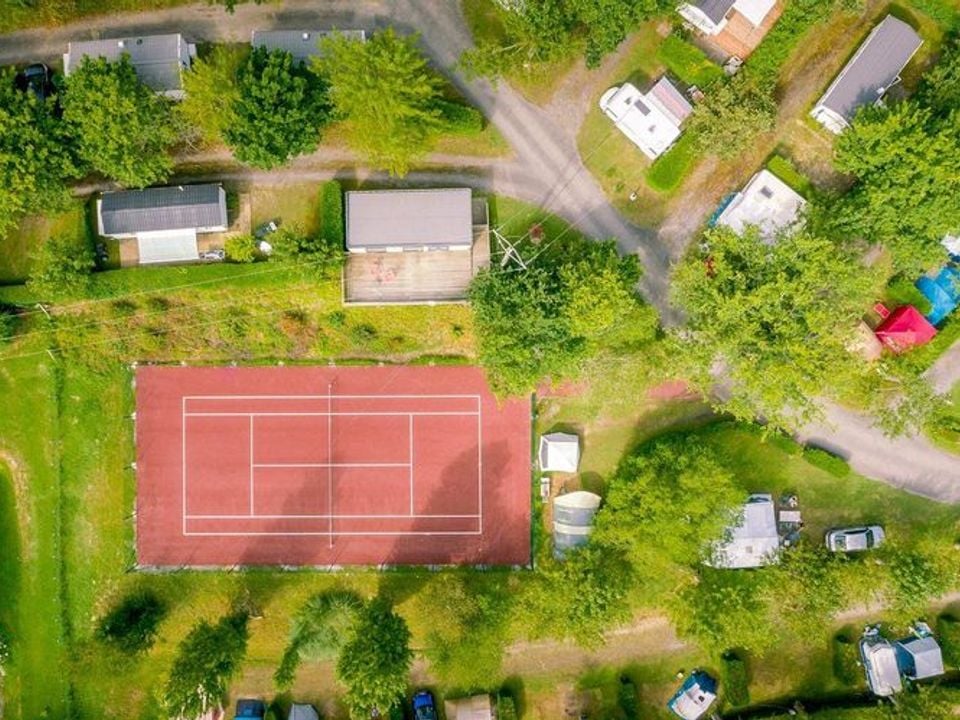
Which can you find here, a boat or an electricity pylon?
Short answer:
electricity pylon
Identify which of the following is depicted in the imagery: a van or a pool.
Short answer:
van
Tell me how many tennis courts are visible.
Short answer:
one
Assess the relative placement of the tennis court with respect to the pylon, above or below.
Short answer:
below it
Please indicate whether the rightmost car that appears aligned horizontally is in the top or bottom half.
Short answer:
bottom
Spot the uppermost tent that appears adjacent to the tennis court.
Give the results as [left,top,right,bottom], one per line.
[539,432,580,473]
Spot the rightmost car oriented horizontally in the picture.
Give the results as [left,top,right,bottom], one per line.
[823,523,883,551]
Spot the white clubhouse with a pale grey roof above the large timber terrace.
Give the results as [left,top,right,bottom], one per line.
[345,187,473,252]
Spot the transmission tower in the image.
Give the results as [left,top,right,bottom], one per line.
[492,228,528,269]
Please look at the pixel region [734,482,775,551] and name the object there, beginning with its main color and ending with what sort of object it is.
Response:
white van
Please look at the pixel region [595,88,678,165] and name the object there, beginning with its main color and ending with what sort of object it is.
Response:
white camper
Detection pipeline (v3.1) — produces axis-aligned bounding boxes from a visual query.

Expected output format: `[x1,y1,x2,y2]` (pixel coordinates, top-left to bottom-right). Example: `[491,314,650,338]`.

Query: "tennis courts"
[135,366,532,569]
